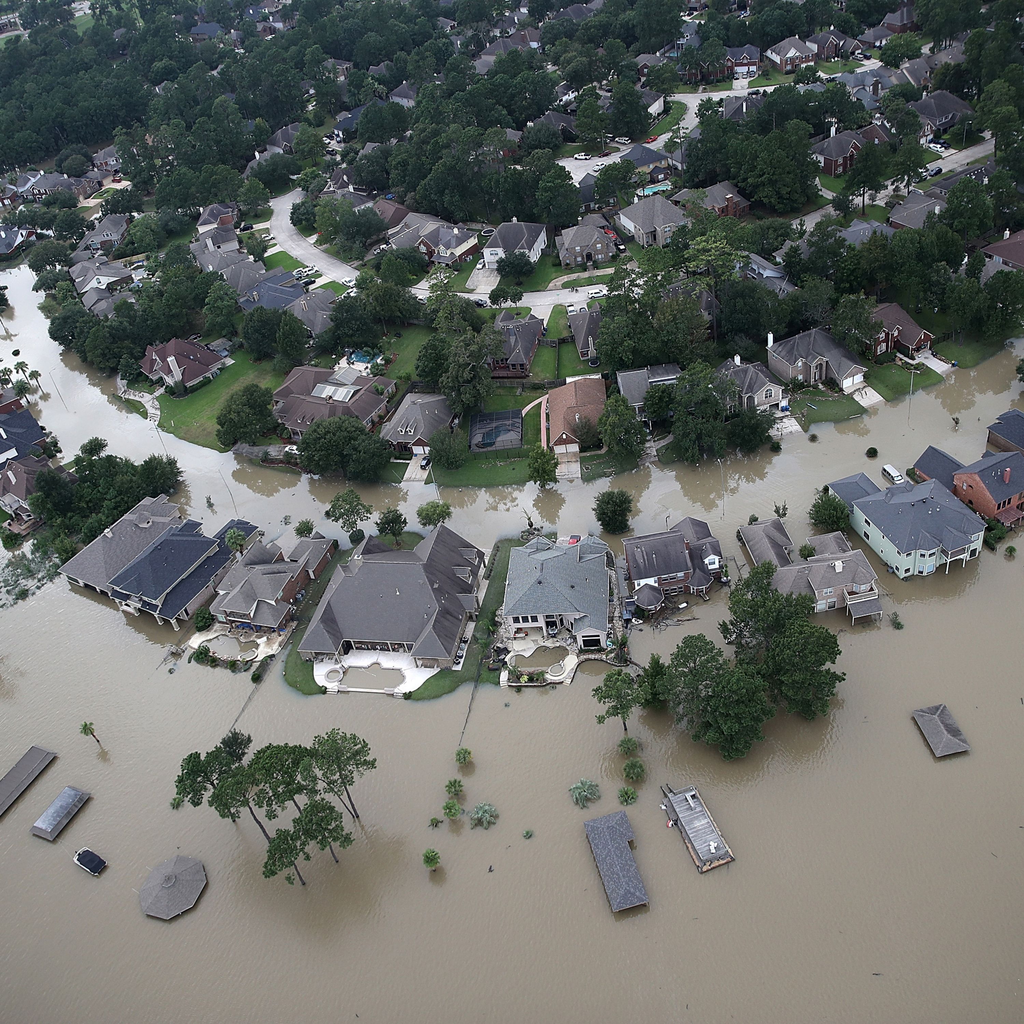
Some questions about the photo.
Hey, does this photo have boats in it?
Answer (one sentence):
Yes, there is a boat in the image.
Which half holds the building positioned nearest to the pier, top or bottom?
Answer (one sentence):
Seen from above, the building positioned nearest to the pier lies in the bottom half of the view.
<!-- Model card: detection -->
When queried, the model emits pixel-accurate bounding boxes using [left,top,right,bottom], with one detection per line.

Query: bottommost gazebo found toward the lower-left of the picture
[141,859,204,916]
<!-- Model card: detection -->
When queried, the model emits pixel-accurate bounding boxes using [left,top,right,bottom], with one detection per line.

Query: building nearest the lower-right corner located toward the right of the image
[914,704,970,758]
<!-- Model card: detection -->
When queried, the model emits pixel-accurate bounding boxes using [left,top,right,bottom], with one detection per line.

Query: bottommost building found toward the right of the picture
[585,811,649,912]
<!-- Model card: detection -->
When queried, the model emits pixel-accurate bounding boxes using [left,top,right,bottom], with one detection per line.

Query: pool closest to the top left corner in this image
[351,349,381,363]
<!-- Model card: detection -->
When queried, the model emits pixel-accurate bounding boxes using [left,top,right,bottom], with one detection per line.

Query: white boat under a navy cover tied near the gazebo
[74,847,107,872]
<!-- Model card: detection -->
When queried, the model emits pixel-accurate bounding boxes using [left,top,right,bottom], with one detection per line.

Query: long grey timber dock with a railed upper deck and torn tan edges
[661,780,735,874]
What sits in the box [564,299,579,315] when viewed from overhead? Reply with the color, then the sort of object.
white vehicle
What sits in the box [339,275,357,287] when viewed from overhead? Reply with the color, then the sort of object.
white vehicle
